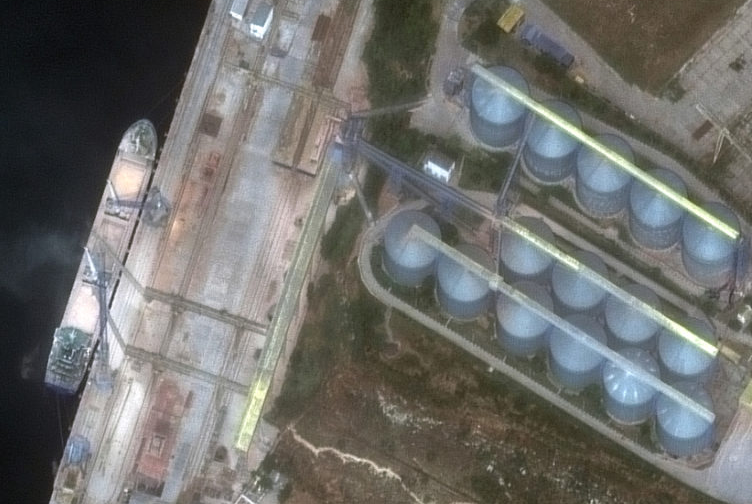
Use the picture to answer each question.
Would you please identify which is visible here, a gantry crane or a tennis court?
gantry crane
